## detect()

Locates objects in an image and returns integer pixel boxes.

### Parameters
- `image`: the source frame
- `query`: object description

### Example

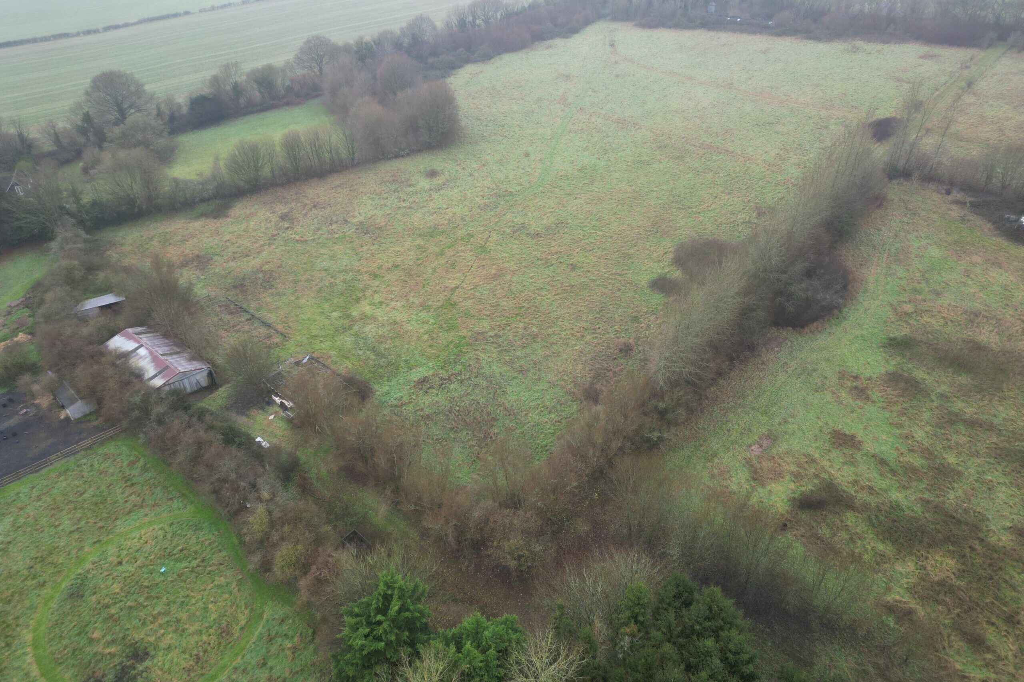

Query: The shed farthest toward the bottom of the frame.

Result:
[334,513,380,560]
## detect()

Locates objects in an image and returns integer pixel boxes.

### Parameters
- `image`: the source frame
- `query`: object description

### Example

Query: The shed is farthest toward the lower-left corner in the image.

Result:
[53,378,101,430]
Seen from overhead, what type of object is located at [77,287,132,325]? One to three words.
shed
